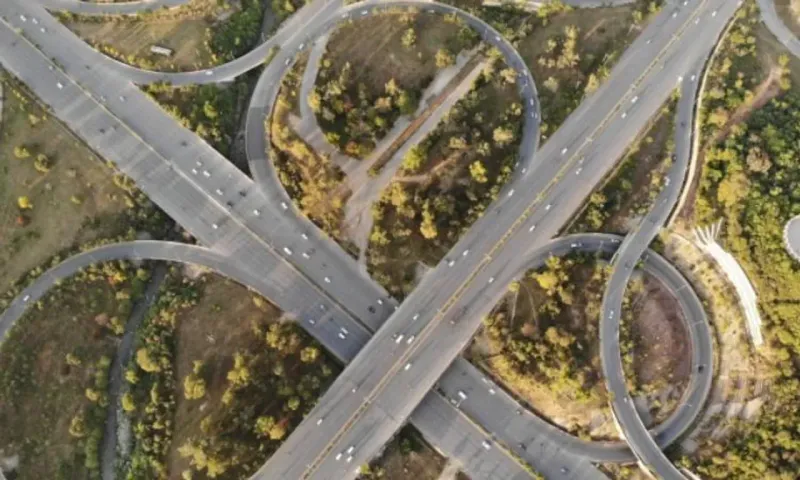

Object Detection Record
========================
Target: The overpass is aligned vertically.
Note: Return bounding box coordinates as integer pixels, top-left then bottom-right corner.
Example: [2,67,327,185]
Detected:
[599,185,688,480]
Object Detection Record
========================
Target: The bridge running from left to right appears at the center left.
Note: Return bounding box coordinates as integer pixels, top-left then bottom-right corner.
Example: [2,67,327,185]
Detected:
[130,241,185,263]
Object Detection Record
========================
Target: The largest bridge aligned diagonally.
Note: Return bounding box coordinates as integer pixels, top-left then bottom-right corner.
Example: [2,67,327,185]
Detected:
[305,249,505,468]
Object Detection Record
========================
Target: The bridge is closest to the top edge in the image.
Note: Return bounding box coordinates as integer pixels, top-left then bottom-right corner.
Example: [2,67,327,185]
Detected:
[217,47,267,80]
